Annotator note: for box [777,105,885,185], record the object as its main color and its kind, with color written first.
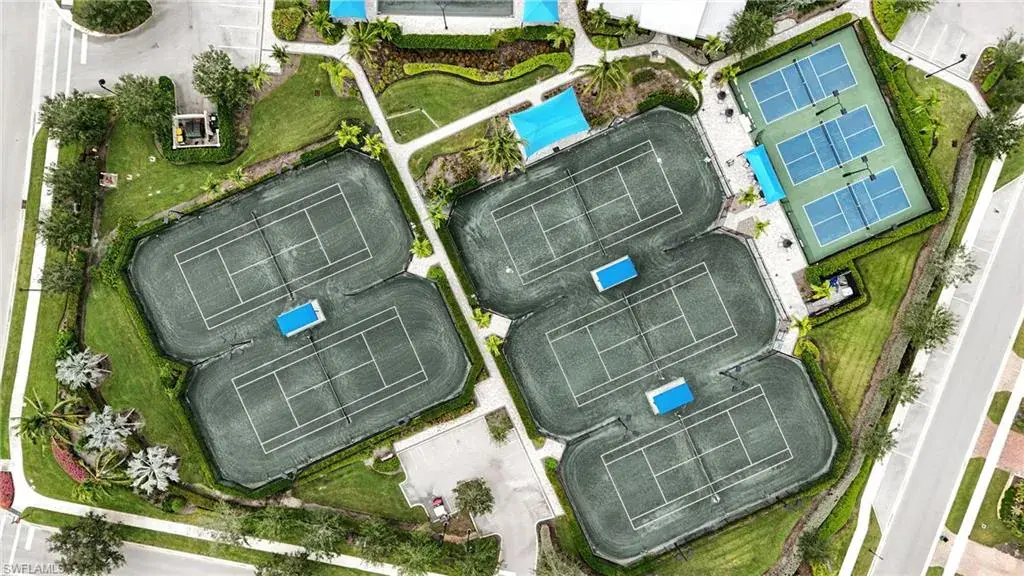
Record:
blue sports court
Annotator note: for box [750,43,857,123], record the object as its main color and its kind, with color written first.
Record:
blue sports court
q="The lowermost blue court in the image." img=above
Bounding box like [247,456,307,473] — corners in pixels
[803,166,912,246]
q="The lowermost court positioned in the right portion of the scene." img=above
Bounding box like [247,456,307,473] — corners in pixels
[560,352,833,562]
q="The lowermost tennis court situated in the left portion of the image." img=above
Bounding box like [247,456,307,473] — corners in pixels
[195,271,469,487]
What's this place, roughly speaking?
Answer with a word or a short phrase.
sports ground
